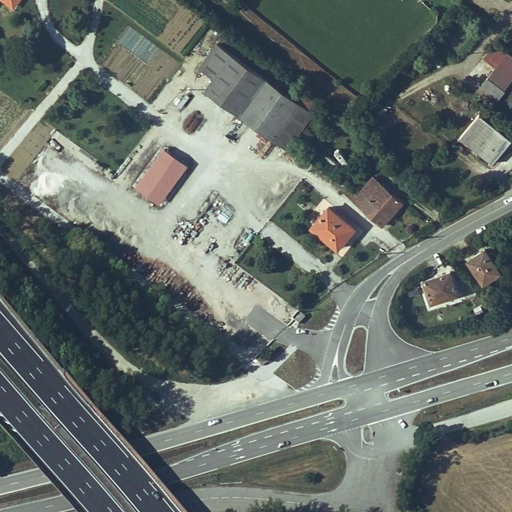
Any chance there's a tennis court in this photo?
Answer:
No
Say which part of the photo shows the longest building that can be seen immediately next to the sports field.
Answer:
top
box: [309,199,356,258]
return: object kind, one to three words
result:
house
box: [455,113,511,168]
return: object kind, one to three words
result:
shed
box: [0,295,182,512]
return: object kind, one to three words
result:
bridge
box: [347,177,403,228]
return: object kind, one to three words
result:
house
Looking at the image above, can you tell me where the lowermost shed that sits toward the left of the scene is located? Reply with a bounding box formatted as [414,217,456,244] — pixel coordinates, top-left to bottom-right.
[134,149,188,206]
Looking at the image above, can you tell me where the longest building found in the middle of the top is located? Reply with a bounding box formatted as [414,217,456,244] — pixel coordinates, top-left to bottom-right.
[200,44,310,149]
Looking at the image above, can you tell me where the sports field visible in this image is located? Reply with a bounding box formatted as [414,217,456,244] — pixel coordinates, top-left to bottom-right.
[252,0,436,95]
